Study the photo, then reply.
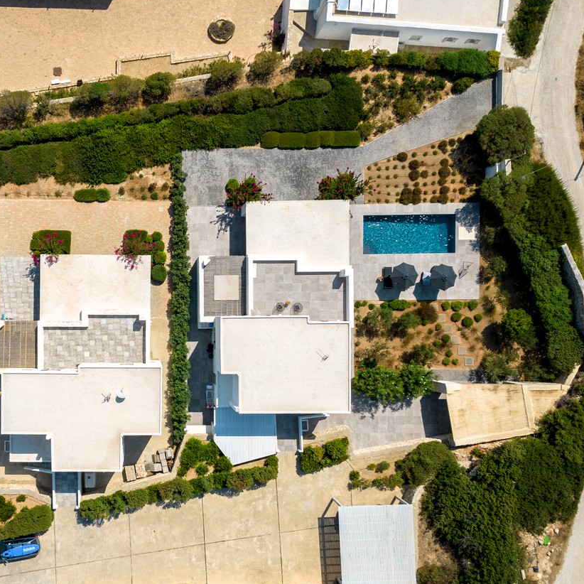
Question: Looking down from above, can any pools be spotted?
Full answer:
Yes, a pool is visible in the scene.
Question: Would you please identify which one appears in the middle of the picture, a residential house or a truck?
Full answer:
Looking in the middle of the picture, you will find a residential house.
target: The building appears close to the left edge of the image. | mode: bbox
[0,254,162,509]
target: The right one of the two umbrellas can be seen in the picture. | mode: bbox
[430,264,456,291]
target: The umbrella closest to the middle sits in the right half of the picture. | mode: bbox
[391,263,417,291]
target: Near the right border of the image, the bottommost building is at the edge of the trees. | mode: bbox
[432,381,568,442]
